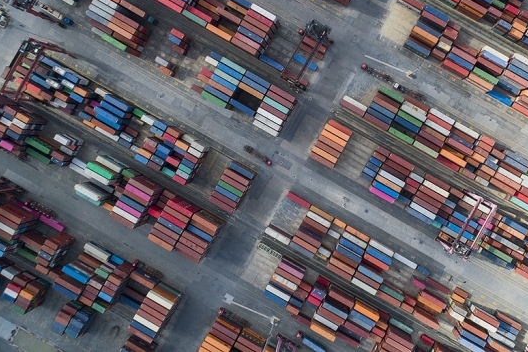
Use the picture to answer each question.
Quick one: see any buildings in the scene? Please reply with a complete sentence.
No, no building can be seen from above.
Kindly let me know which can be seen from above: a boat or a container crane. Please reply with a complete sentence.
I can see a container crane in this picture.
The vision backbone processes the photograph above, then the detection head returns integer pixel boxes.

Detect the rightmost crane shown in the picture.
[432,188,496,262]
